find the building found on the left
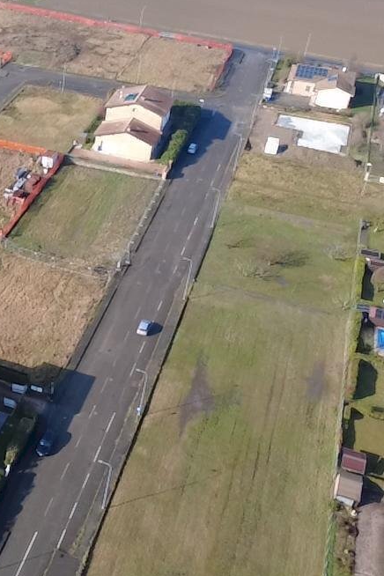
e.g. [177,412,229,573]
[92,85,174,159]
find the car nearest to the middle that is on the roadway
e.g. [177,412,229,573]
[136,317,152,334]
